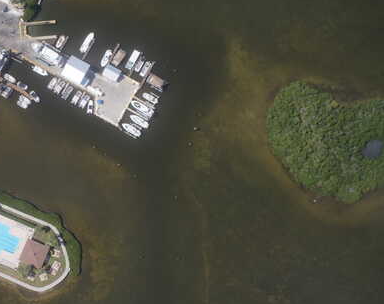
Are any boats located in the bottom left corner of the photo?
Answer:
No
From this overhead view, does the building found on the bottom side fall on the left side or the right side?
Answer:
left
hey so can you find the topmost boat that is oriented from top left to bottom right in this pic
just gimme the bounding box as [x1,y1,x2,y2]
[32,42,66,67]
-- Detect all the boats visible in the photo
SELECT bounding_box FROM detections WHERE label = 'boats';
[140,62,151,77]
[79,32,91,52]
[17,102,28,110]
[30,91,40,103]
[56,36,65,49]
[48,77,57,90]
[125,49,138,69]
[18,96,32,104]
[87,99,94,114]
[131,115,150,129]
[122,123,143,138]
[32,42,66,67]
[62,84,73,100]
[143,94,159,104]
[0,57,8,71]
[32,65,48,75]
[135,58,144,72]
[3,73,17,82]
[100,49,112,68]
[132,101,155,117]
[78,95,91,110]
[54,81,64,95]
[71,92,81,106]
[16,81,28,89]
